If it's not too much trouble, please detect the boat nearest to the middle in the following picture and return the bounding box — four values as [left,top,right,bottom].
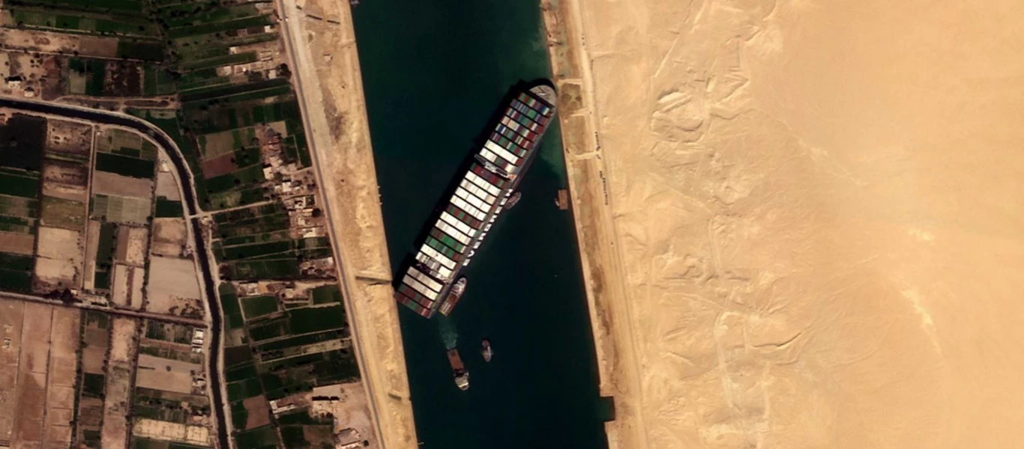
[505,192,521,210]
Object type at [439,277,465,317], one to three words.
ship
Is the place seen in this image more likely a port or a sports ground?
port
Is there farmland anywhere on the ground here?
Yes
